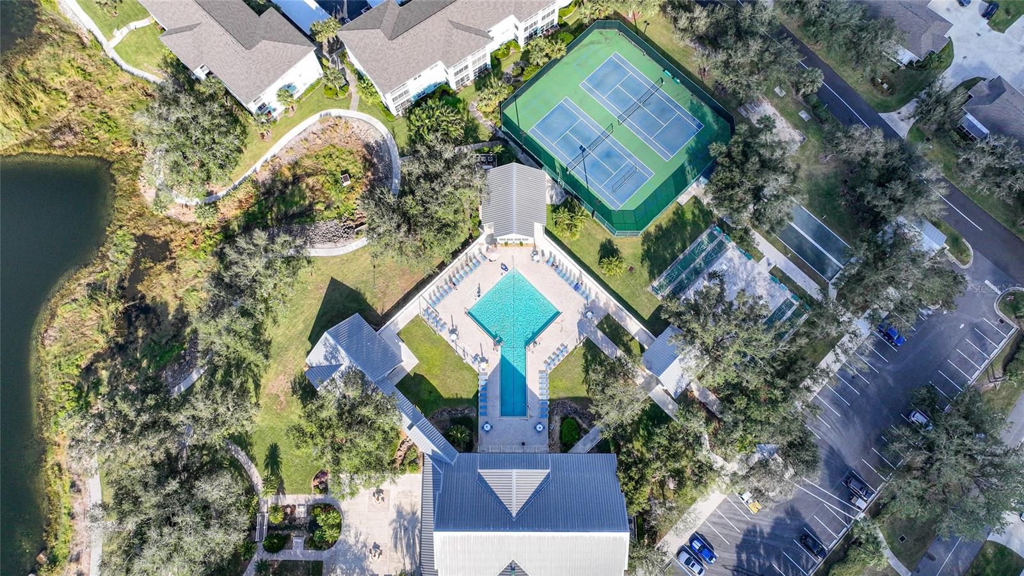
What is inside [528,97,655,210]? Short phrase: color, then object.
blue tennis court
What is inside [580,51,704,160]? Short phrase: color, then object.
blue tennis court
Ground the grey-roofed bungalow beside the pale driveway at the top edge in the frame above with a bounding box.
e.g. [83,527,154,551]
[858,0,953,73]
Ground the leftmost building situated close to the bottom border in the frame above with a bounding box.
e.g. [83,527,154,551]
[416,453,629,576]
